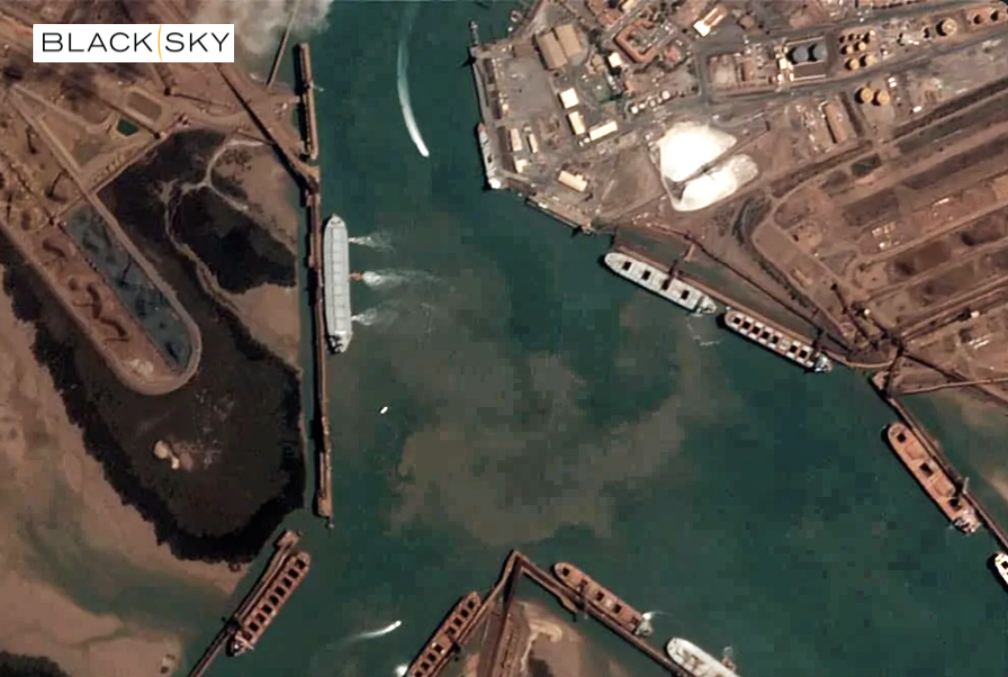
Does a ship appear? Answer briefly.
Yes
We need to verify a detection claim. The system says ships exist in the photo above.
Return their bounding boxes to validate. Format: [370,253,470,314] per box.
[402,589,479,677]
[602,250,719,314]
[230,550,312,659]
[994,550,1008,585]
[323,214,351,354]
[666,637,737,677]
[476,122,502,193]
[554,563,652,638]
[724,310,835,372]
[891,419,980,535]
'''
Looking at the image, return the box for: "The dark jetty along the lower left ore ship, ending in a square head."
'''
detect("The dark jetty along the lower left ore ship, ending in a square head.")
[227,540,290,623]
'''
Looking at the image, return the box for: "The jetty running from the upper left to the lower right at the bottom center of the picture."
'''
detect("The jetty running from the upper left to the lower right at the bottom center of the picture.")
[515,550,692,677]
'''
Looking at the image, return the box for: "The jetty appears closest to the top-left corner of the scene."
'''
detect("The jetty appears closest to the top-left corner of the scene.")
[300,43,318,156]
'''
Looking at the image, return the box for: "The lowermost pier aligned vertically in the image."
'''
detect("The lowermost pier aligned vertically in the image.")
[313,176,333,515]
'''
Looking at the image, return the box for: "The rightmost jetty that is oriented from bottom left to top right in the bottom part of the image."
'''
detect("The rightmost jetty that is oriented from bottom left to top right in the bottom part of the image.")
[431,553,515,677]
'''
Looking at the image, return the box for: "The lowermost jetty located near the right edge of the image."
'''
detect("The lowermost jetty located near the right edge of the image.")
[882,390,1008,550]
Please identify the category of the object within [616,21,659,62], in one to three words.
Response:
building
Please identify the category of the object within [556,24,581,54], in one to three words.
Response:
building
